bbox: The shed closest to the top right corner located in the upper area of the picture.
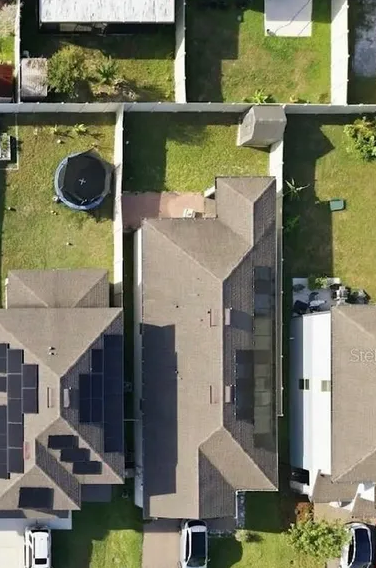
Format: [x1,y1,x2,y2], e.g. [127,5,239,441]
[238,101,289,150]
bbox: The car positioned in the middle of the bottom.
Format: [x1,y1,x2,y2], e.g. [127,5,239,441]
[181,523,213,568]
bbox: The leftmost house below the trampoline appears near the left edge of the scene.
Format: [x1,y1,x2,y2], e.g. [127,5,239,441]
[0,269,125,517]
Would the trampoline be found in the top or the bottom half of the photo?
top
